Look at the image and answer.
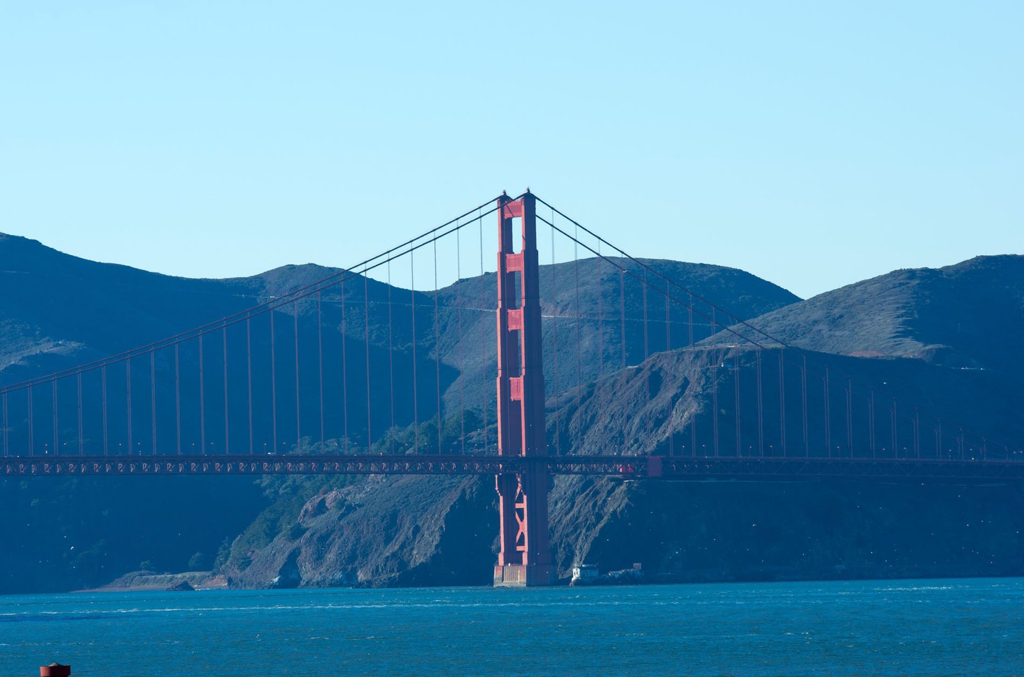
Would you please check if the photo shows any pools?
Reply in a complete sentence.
No, no pool is visible in the view.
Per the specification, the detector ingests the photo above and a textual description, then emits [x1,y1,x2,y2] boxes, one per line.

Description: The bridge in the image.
[0,186,1024,588]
